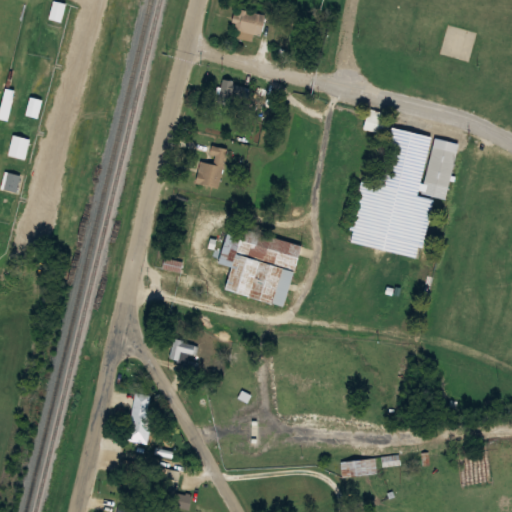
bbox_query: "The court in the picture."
[440,24,478,62]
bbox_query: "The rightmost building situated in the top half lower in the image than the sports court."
[420,138,460,200]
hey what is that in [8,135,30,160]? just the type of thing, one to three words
shed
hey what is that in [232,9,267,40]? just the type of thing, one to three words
house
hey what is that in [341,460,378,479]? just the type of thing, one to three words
barn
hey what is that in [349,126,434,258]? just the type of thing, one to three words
building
